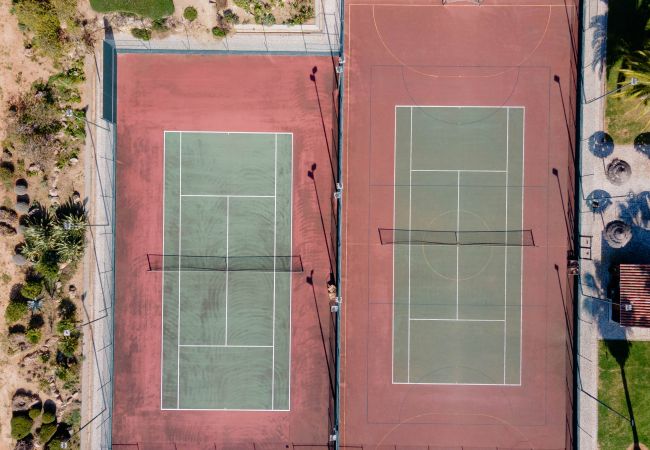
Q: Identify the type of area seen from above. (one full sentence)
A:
This image shows a sports ground.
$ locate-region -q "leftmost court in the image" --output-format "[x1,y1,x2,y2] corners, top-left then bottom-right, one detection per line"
[113,51,340,450]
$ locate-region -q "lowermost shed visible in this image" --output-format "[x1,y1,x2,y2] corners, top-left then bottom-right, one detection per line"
[604,263,650,328]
